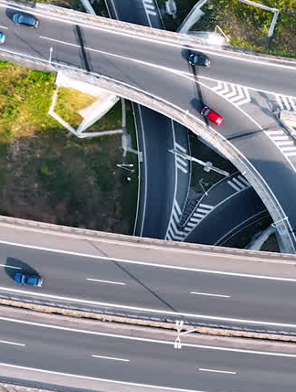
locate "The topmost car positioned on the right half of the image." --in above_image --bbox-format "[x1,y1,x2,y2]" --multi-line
[187,53,210,66]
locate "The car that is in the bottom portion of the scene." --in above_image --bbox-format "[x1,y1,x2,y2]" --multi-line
[14,272,42,286]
